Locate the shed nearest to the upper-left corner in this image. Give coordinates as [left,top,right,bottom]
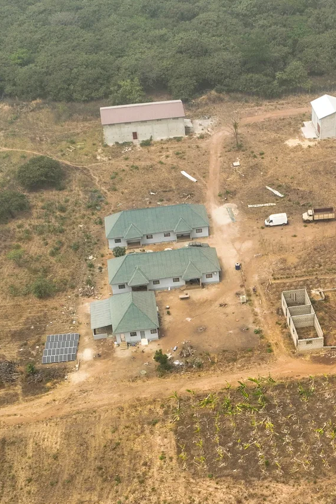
[100,99,194,144]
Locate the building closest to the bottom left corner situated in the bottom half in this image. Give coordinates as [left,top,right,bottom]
[90,290,160,348]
